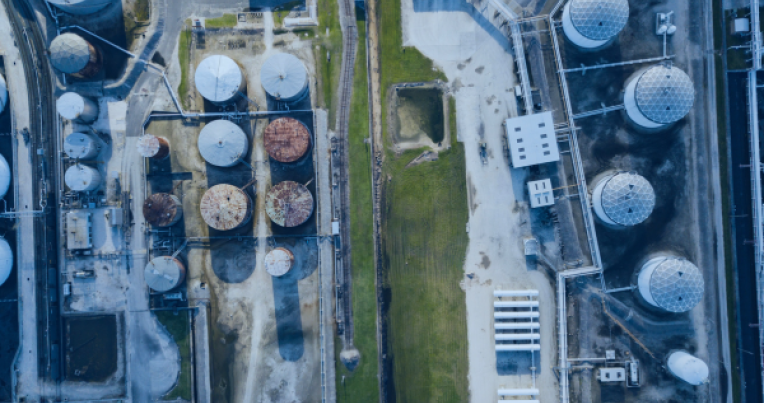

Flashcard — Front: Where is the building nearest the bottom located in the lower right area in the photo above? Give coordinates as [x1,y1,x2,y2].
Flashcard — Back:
[598,366,625,381]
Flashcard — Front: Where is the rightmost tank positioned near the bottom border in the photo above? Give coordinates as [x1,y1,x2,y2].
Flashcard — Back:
[666,349,710,385]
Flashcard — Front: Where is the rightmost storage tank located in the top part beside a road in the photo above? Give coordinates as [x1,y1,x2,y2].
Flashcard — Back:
[624,65,695,128]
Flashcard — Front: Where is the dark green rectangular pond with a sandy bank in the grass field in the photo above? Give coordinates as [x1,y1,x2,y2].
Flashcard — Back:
[386,78,450,153]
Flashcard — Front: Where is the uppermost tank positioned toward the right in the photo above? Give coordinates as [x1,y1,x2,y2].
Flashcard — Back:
[560,0,630,49]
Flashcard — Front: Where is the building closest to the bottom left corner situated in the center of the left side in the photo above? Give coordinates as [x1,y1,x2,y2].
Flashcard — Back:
[67,212,93,249]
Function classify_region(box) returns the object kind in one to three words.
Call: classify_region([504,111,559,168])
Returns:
building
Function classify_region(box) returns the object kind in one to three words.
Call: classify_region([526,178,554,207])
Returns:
building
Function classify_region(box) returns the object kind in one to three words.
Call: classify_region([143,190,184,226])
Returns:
storage tank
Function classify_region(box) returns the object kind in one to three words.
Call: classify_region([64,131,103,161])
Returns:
storage tank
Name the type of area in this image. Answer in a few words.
industrial area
